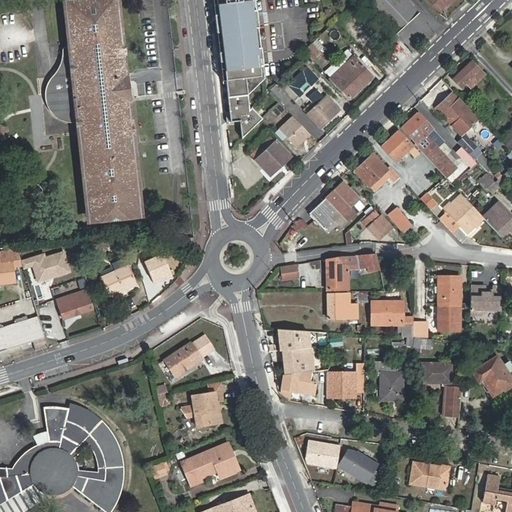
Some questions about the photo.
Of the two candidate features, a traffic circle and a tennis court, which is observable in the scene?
traffic circle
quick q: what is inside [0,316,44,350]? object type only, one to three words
building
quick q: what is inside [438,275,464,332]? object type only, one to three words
house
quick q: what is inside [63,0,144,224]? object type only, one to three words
building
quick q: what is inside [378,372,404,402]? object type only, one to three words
house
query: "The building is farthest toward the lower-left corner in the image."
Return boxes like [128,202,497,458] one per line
[0,403,123,512]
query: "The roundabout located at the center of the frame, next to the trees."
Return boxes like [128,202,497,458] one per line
[192,211,270,302]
